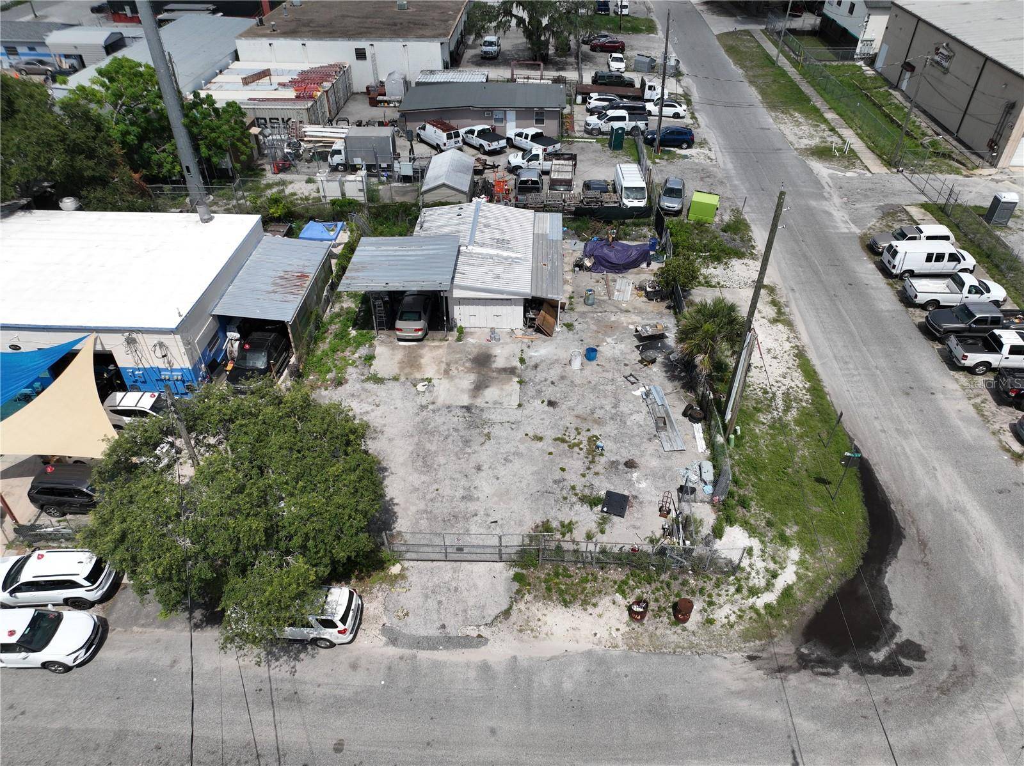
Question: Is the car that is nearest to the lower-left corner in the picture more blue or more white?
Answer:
white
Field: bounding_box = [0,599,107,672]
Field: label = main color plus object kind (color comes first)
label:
white car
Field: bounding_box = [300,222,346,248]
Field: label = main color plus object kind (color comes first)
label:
blue tent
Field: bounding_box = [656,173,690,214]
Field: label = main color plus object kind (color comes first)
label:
gray car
